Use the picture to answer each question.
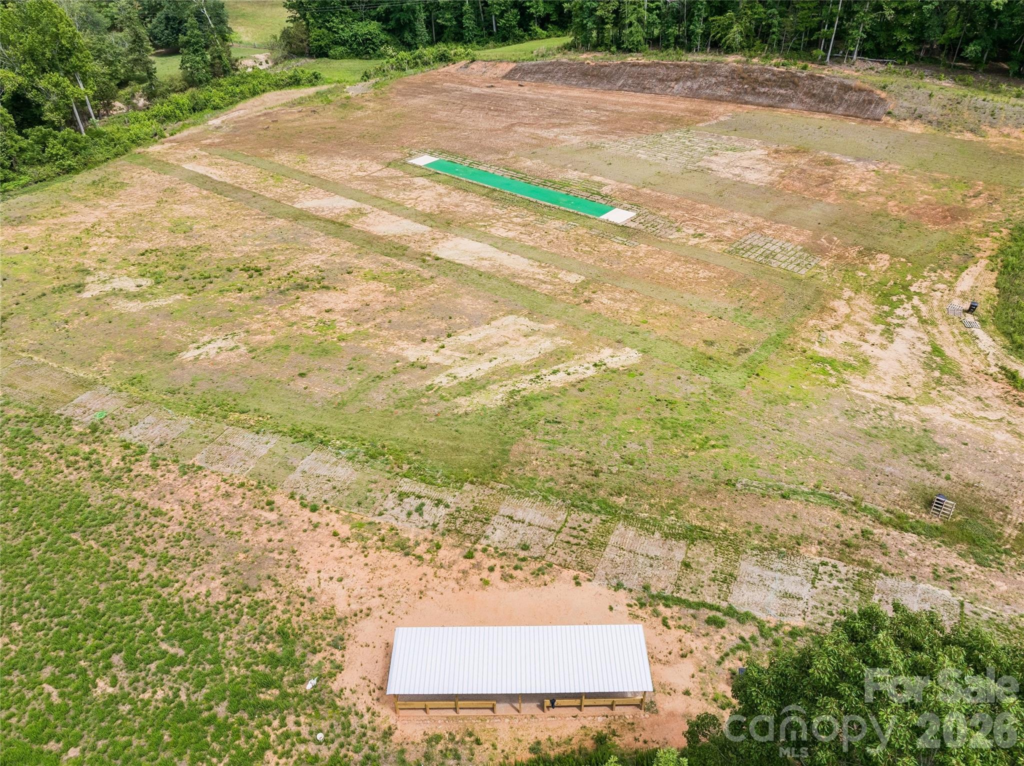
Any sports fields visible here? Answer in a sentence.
Yes, a sports field is visible in the scene.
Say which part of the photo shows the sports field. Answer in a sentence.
The sports field sits in the top section of the image.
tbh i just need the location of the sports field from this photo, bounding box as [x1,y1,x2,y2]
[404,153,639,225]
